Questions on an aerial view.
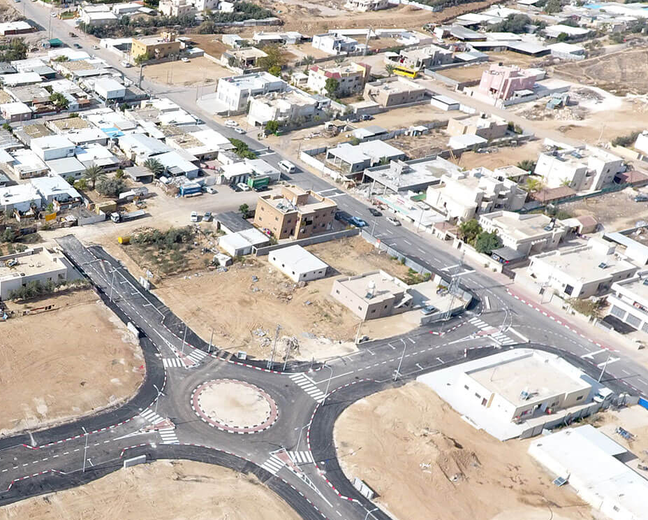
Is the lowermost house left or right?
right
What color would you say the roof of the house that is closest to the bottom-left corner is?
white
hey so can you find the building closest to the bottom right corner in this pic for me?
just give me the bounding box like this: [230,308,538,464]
[525,425,648,520]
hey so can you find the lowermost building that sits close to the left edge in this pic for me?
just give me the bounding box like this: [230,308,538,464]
[0,247,67,295]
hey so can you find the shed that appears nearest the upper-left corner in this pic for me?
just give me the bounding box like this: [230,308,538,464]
[0,21,33,39]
